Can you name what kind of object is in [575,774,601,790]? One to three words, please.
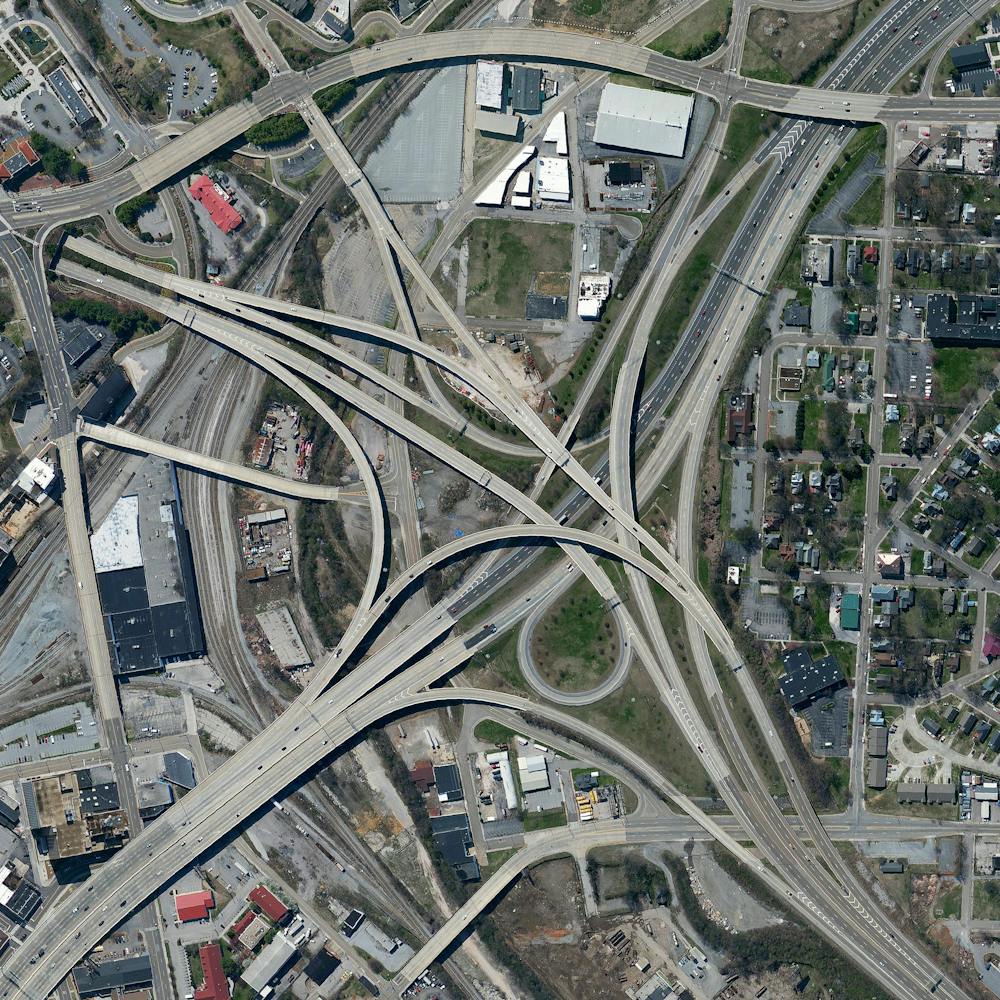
house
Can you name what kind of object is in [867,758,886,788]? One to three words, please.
building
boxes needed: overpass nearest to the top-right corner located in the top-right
[791,88,885,122]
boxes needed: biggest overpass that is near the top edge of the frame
[349,27,651,77]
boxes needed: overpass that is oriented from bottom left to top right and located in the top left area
[133,96,270,189]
